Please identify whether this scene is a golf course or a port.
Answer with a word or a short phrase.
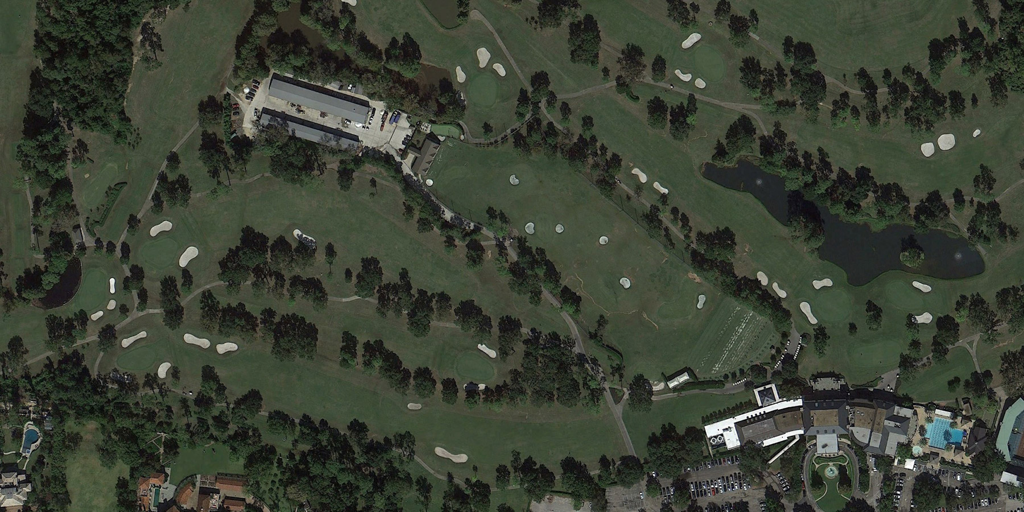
golf course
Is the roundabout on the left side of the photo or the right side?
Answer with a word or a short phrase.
right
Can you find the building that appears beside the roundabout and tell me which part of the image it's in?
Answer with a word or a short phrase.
bottom right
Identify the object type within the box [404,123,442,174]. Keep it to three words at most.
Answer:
building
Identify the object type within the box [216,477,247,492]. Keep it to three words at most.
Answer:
shed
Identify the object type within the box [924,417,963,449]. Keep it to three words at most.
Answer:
swimming pool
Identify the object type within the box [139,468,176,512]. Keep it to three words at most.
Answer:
house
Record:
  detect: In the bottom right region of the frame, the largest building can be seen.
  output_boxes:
[705,377,918,463]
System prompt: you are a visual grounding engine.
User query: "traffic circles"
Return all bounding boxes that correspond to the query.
[800,437,863,512]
